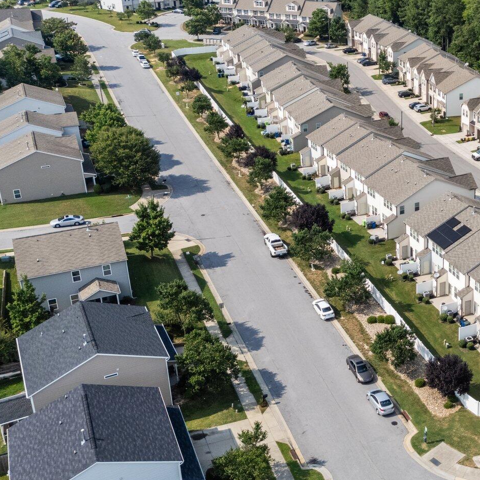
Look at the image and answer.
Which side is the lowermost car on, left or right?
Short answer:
right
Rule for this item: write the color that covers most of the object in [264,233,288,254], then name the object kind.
white truck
